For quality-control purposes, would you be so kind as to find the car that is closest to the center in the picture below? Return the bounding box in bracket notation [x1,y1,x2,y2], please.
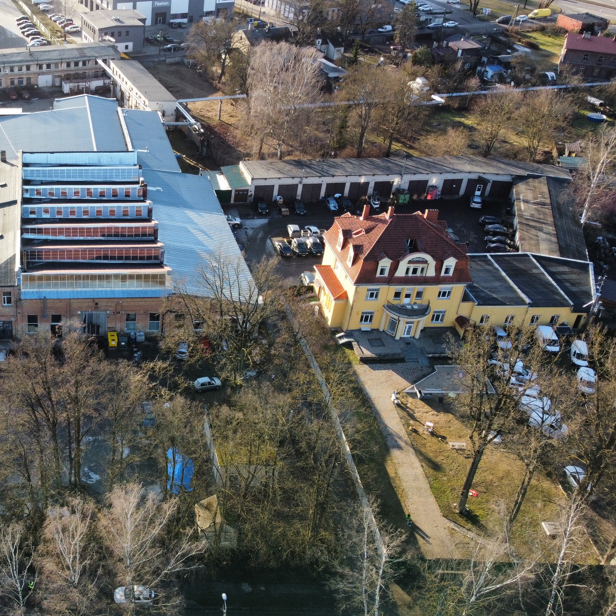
[299,270,313,288]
